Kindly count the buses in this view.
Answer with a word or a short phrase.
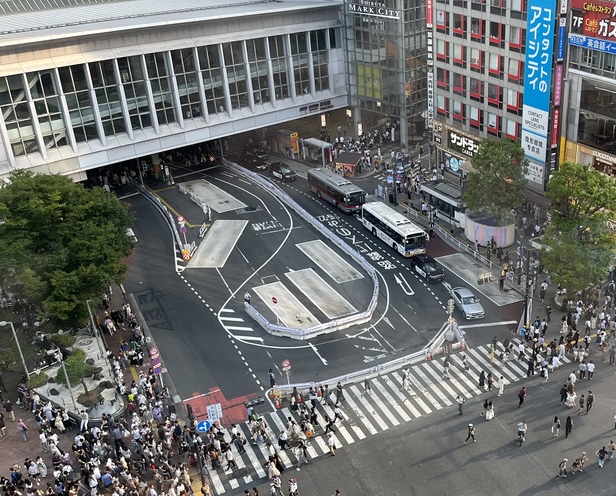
2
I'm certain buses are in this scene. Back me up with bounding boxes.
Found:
[309,168,374,218]
[362,195,432,254]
